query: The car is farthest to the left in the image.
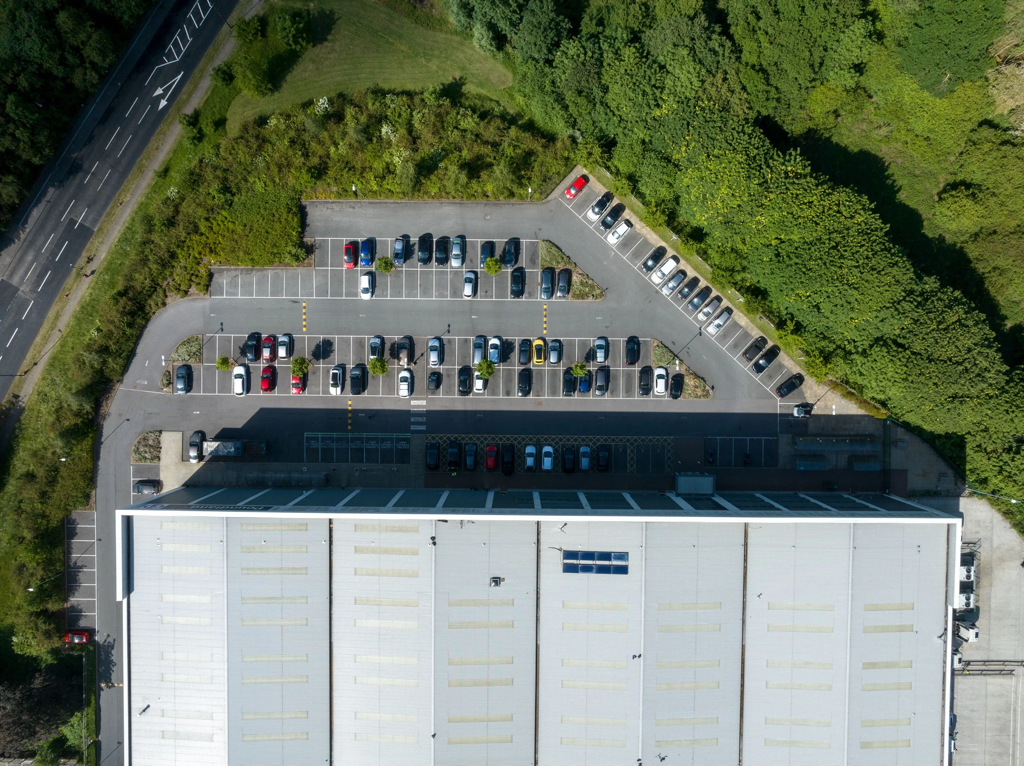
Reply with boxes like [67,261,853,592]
[66,630,91,644]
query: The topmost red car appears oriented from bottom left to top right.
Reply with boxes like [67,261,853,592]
[564,174,589,200]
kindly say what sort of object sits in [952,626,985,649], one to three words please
truck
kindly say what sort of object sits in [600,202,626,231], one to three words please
car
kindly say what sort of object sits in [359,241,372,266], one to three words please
vehicle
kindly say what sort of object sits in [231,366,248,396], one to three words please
car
